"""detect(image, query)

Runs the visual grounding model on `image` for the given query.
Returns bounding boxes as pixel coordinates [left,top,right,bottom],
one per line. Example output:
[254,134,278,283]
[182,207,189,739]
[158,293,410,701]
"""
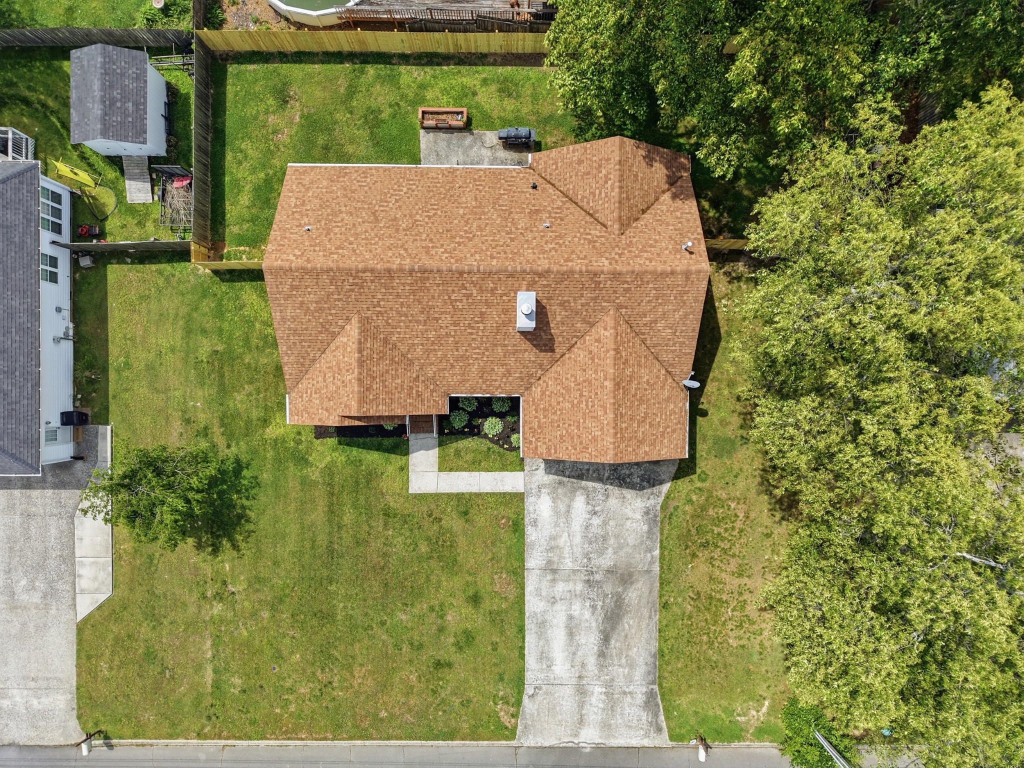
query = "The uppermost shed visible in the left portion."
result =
[69,42,167,155]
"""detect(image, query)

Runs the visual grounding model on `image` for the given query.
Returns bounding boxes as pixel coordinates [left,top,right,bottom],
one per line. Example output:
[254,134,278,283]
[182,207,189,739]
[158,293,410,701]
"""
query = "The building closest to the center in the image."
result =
[264,137,710,464]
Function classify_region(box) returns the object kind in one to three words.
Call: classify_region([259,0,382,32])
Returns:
swimming pool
